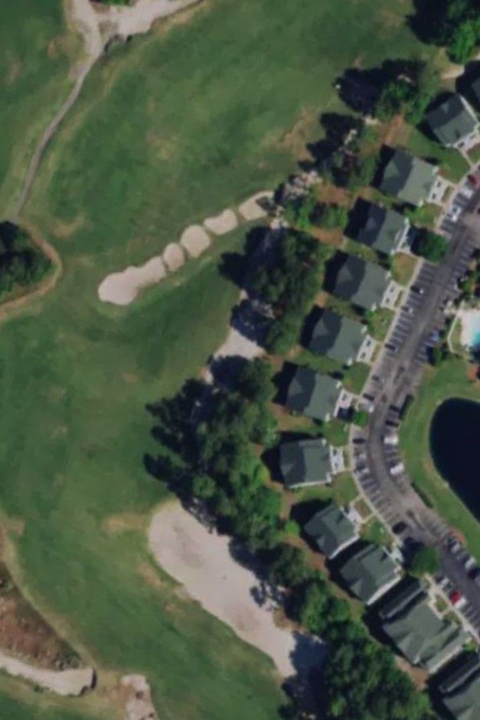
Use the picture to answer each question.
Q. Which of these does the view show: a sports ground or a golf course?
golf course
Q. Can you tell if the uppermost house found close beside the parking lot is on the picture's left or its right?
right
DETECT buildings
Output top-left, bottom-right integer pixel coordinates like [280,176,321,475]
[343,544,406,604]
[281,439,341,488]
[305,502,364,558]
[286,367,352,422]
[446,658,480,720]
[380,149,445,209]
[427,96,480,152]
[309,309,374,365]
[357,203,417,257]
[384,584,469,673]
[335,257,399,313]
